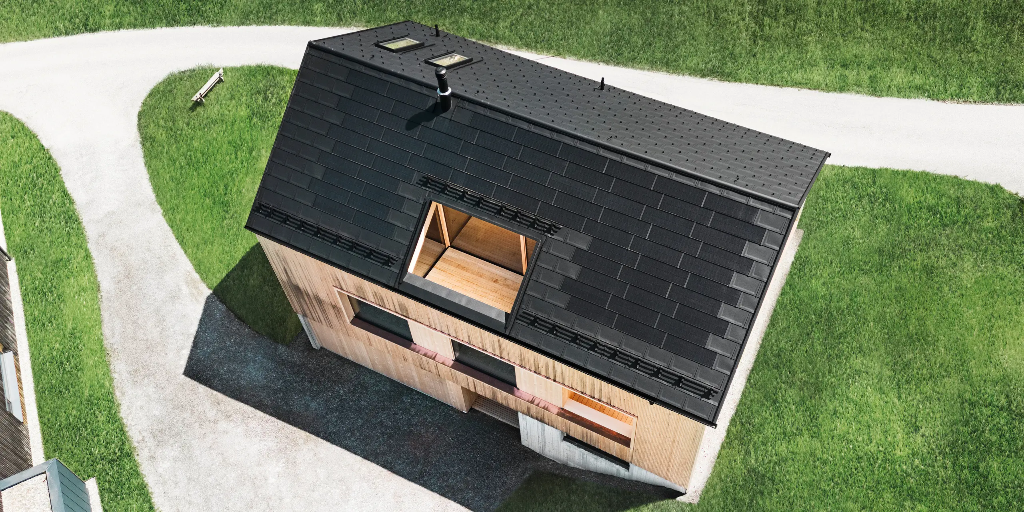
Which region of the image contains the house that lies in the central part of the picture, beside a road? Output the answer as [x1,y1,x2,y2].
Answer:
[242,18,830,492]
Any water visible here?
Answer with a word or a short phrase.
No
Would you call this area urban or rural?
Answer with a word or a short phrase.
urban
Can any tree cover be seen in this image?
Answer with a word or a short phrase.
No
